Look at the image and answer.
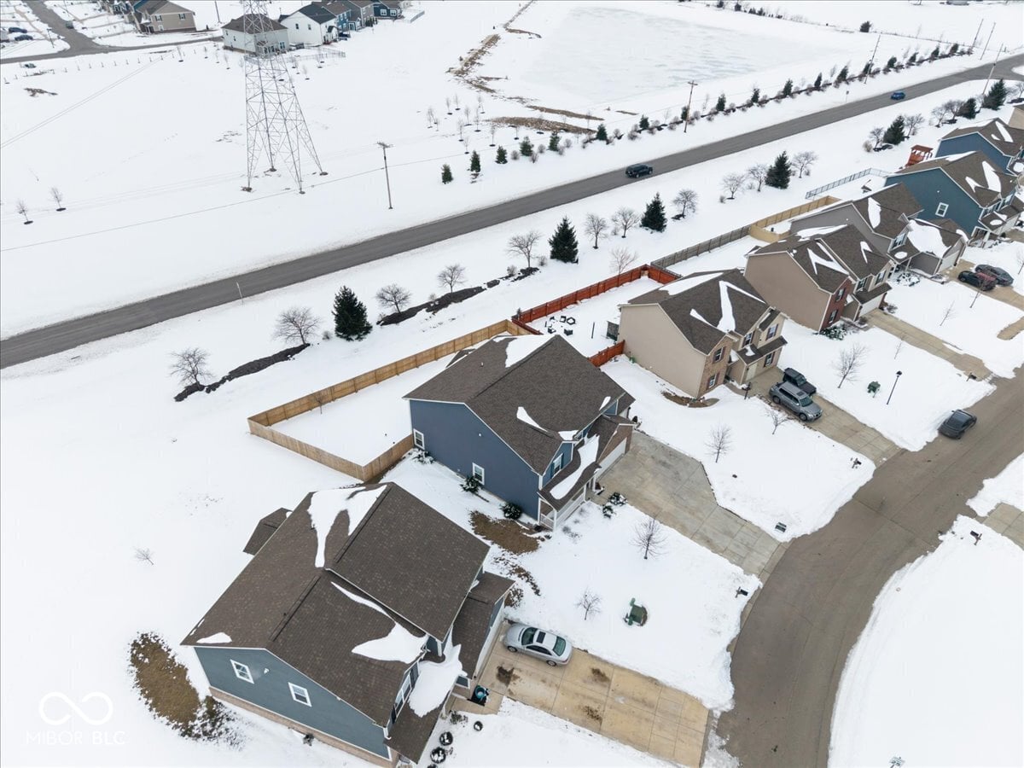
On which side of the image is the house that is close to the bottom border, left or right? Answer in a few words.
left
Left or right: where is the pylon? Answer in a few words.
left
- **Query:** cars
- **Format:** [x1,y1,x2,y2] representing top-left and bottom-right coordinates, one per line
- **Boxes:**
[769,379,821,417]
[973,266,1015,285]
[776,362,822,398]
[955,271,999,291]
[14,34,34,41]
[65,21,74,28]
[12,26,27,33]
[937,410,975,439]
[501,622,573,667]
[626,162,652,179]
[334,31,349,39]
[890,92,906,101]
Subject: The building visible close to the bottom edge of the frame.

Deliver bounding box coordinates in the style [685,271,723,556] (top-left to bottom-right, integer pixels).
[176,482,518,768]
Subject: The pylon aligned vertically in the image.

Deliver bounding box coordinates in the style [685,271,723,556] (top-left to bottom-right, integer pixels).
[238,0,324,193]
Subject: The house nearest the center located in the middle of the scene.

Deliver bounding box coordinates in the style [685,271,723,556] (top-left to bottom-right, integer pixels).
[400,333,642,534]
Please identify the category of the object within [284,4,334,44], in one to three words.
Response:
house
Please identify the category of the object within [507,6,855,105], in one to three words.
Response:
pond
